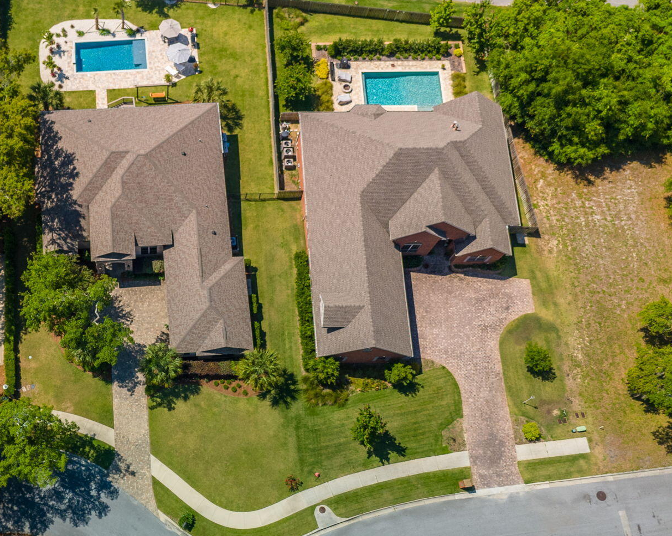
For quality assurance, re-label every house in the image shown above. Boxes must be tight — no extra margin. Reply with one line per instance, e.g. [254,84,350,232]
[296,91,521,365]
[39,102,254,358]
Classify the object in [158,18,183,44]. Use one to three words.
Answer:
umbrella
